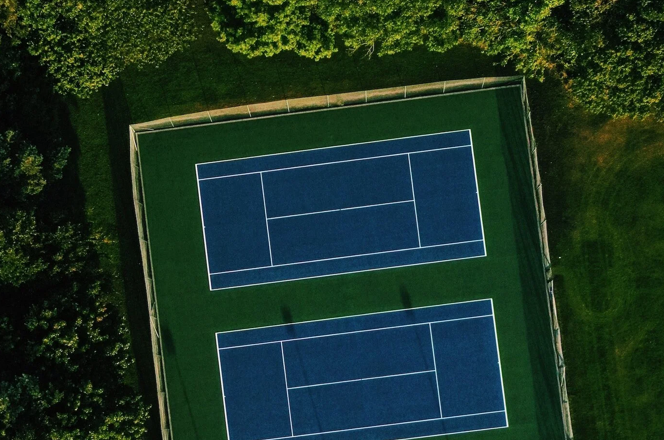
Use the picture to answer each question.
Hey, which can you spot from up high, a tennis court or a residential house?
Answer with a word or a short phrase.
tennis court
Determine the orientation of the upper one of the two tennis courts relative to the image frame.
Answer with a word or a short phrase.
horizontally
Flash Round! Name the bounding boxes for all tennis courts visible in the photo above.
[195,129,487,291]
[215,298,509,440]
